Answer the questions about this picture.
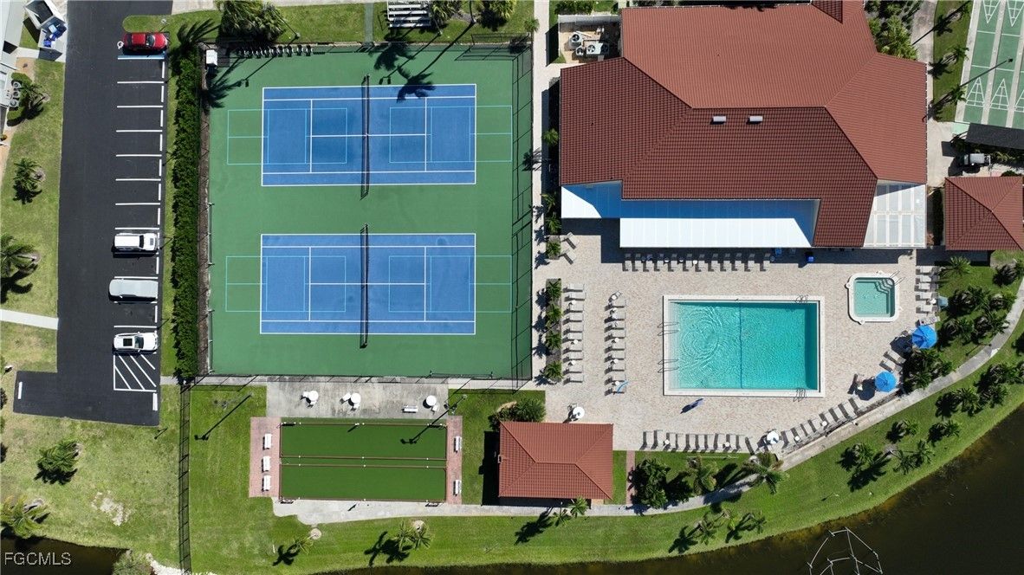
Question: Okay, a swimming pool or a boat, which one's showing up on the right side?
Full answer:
The feature located on the right side is a swimming pool.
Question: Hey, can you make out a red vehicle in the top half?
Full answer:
Yes, you'll find a red vehicle in the top half.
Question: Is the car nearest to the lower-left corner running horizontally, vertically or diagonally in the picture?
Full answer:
The car nearest to the lower-left corner runs horizontally in the image.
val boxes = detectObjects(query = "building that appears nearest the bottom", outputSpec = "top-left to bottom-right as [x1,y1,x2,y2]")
[498,420,614,501]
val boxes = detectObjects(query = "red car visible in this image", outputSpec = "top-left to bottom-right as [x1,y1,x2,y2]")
[122,29,170,51]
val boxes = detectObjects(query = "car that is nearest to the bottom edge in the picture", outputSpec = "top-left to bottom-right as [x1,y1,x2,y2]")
[112,332,160,353]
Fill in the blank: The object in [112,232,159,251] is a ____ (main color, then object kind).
white car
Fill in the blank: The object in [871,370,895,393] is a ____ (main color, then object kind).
blue umbrella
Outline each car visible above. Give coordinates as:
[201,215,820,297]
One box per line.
[112,332,160,353]
[122,29,170,51]
[108,279,158,301]
[112,232,159,251]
